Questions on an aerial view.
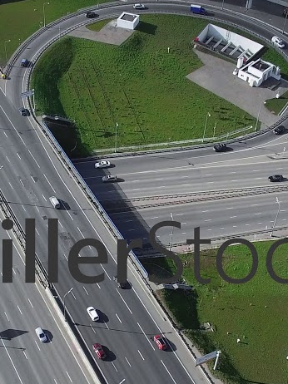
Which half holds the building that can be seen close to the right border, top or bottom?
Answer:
top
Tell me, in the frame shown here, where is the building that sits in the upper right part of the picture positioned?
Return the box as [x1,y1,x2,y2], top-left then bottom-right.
[240,55,278,88]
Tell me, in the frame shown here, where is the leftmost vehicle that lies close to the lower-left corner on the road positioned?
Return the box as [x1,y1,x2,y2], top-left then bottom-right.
[36,326,50,344]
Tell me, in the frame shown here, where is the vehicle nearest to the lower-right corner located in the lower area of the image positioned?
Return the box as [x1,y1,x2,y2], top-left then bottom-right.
[153,333,169,352]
